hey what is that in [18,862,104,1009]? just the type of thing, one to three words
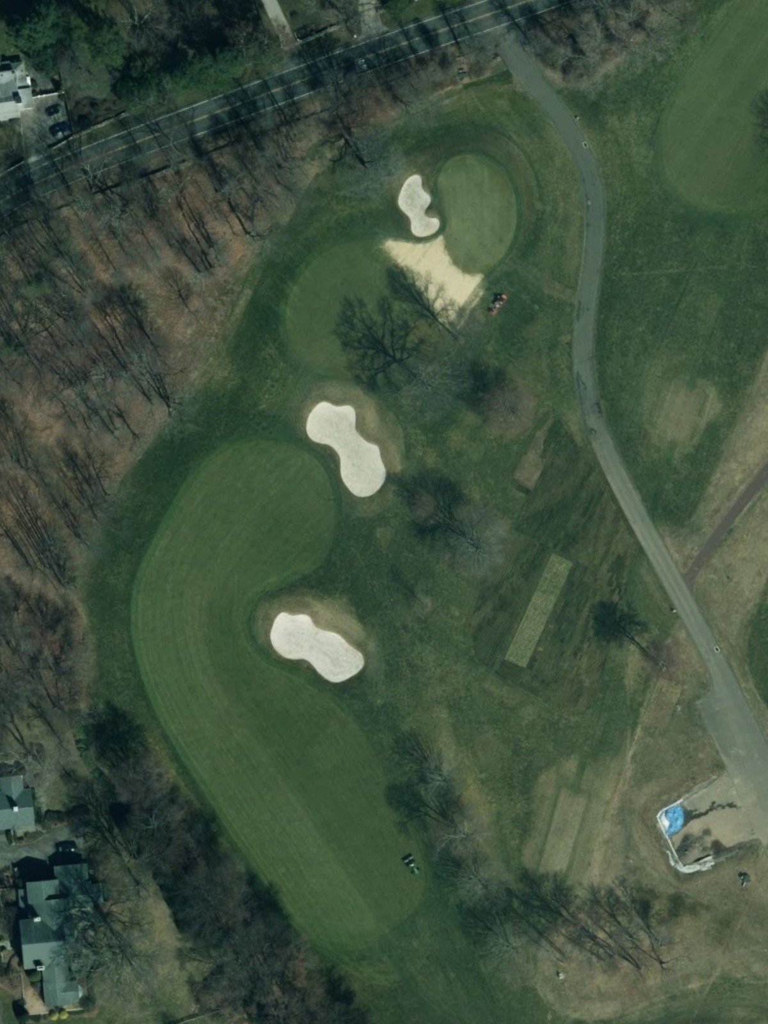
house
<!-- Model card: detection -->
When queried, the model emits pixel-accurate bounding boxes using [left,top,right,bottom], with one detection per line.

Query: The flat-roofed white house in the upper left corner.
[0,58,35,122]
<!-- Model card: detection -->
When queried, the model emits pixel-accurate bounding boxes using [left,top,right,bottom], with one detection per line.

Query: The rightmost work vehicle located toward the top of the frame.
[490,292,506,313]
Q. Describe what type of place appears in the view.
golf course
